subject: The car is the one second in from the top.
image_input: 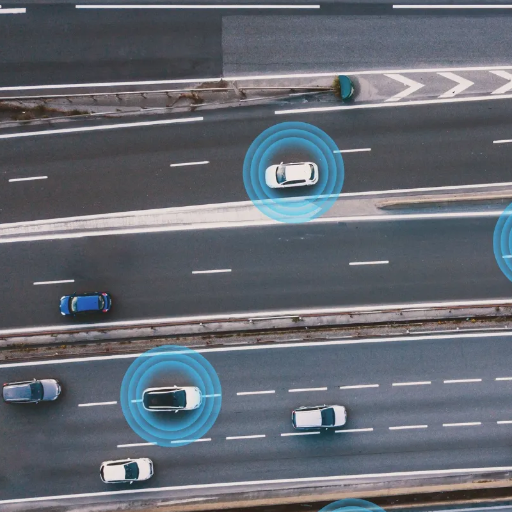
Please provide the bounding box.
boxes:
[60,291,112,318]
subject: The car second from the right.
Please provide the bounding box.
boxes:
[142,384,202,412]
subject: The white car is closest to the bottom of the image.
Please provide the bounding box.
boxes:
[100,456,156,485]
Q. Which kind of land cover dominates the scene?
paved ground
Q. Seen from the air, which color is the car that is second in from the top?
blue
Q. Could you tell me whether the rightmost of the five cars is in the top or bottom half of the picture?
top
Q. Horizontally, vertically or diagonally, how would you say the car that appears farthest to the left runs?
horizontally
